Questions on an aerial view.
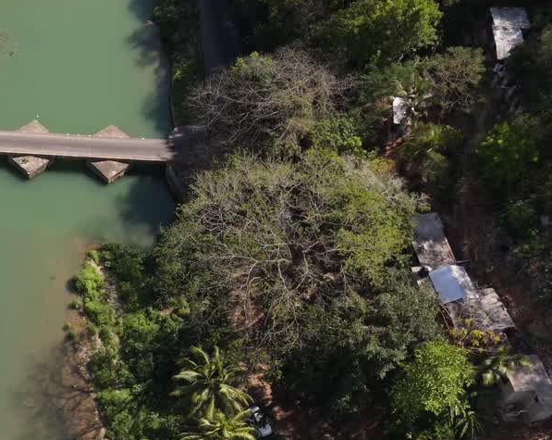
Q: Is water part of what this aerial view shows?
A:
Yes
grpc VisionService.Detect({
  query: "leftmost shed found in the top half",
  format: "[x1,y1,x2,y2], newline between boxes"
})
[389,97,412,134]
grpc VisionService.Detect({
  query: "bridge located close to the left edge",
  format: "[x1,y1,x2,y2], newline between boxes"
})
[0,120,174,184]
